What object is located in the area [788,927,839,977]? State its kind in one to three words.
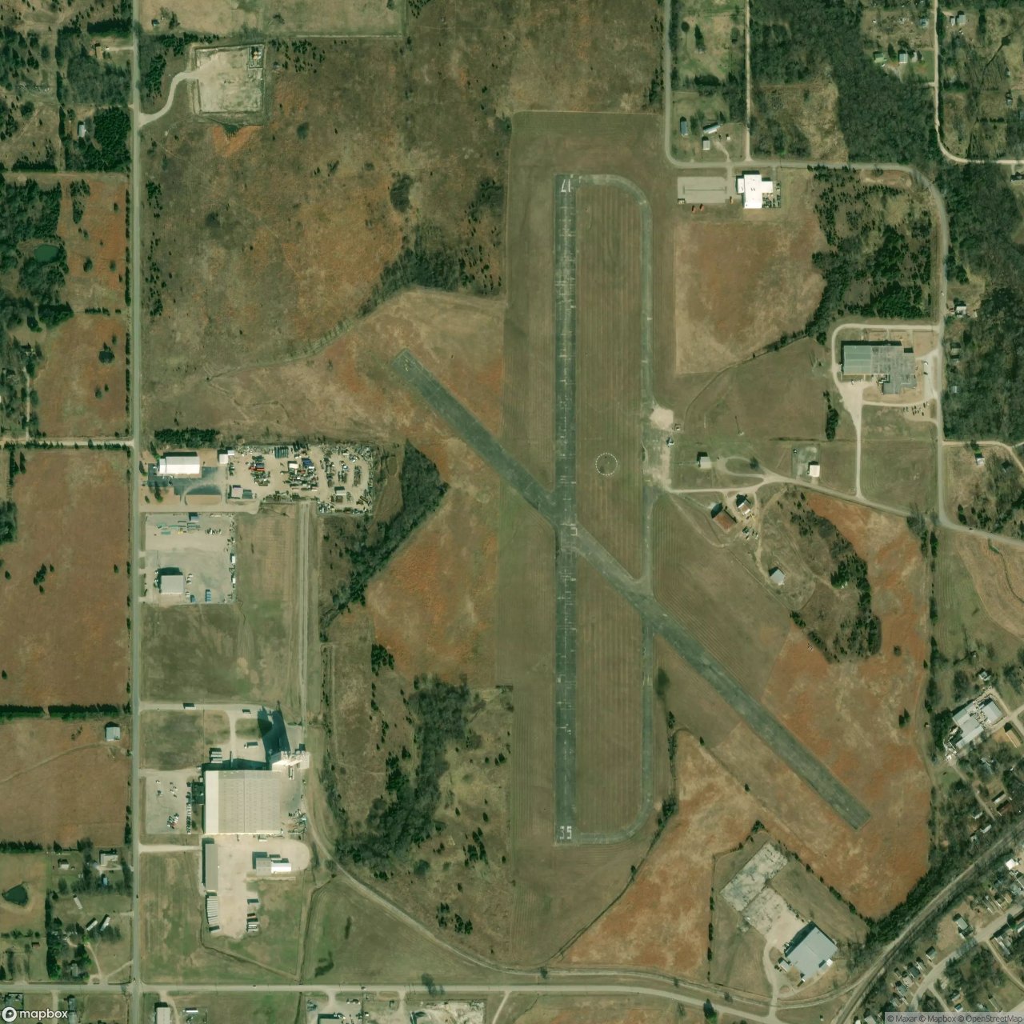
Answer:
building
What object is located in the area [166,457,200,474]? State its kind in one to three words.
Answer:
building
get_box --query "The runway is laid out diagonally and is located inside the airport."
[390,350,872,830]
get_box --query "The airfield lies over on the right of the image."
[390,174,872,845]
